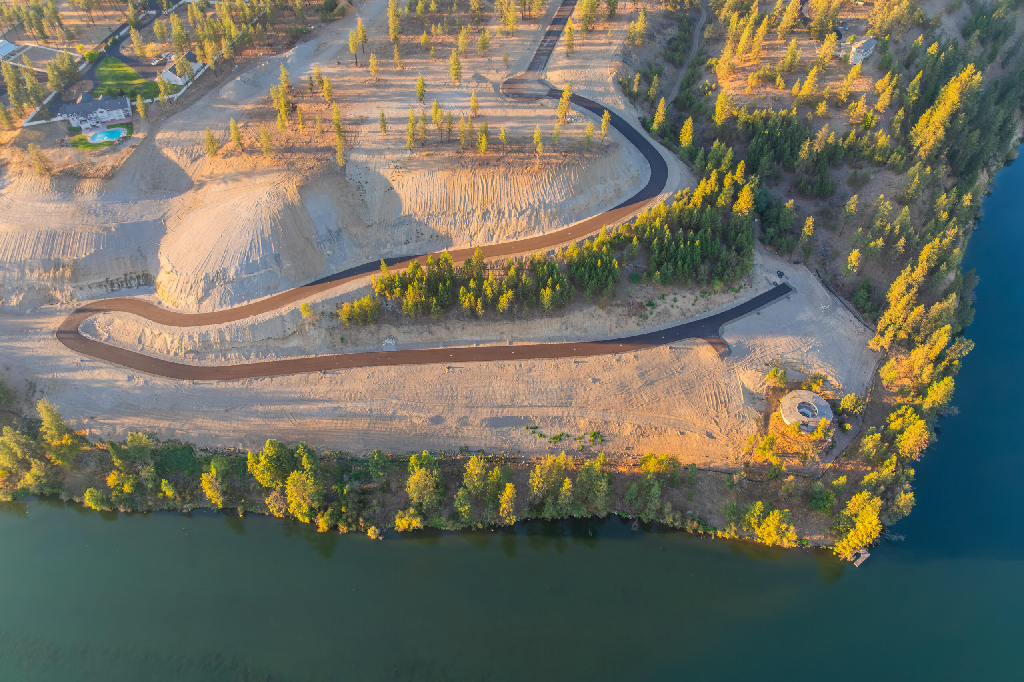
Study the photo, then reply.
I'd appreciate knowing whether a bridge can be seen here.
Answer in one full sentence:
No, the picture doesn't show any bridge.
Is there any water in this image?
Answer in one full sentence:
Yes, there is water in the image.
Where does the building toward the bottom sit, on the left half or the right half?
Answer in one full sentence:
The building toward the bottom sits on the right side.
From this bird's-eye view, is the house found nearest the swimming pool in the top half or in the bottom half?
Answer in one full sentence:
The house found nearest the swimming pool sits in the top half of the picture.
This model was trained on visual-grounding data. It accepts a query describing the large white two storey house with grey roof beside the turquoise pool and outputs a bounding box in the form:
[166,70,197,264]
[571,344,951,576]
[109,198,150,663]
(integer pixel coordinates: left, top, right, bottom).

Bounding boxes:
[48,80,148,131]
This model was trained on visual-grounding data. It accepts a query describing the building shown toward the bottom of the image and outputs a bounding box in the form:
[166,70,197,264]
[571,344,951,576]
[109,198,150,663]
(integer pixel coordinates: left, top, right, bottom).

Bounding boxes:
[780,389,836,437]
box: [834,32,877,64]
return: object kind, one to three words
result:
house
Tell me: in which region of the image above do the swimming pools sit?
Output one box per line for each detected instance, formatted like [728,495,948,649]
[81,126,128,144]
